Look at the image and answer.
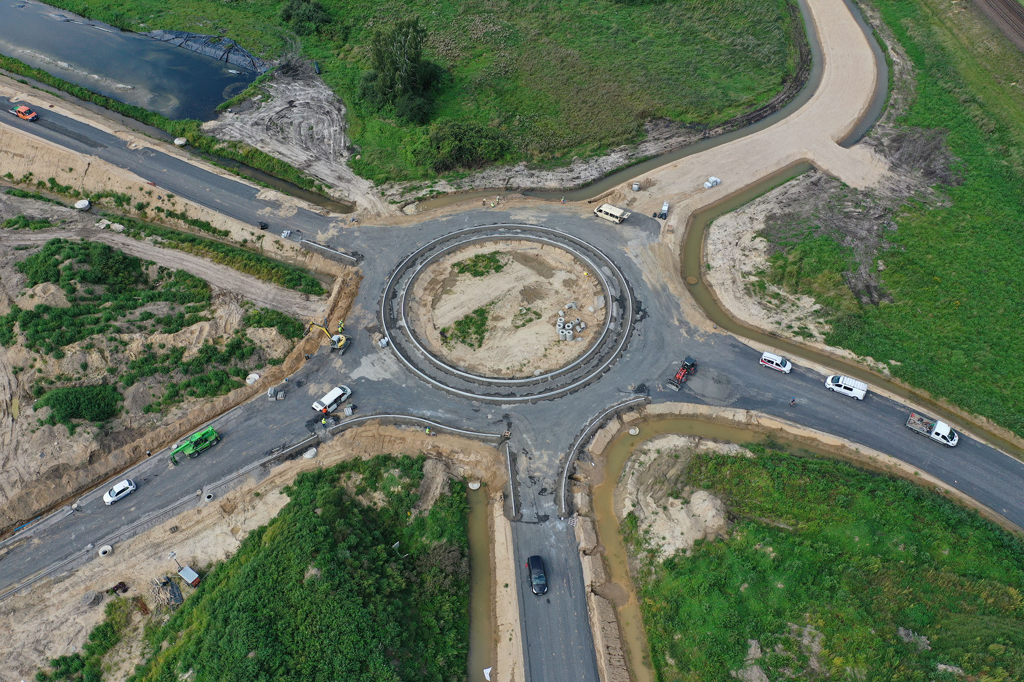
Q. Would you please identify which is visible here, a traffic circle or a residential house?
traffic circle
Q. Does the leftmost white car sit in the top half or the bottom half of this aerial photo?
bottom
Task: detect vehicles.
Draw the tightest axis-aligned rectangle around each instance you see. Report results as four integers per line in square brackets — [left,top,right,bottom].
[103,480,136,505]
[527,556,549,595]
[592,200,634,224]
[313,386,352,412]
[310,319,350,356]
[161,423,220,470]
[666,361,691,391]
[759,351,792,374]
[8,102,40,121]
[826,375,870,400]
[907,412,959,447]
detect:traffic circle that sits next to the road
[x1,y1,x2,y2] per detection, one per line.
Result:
[296,206,727,477]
